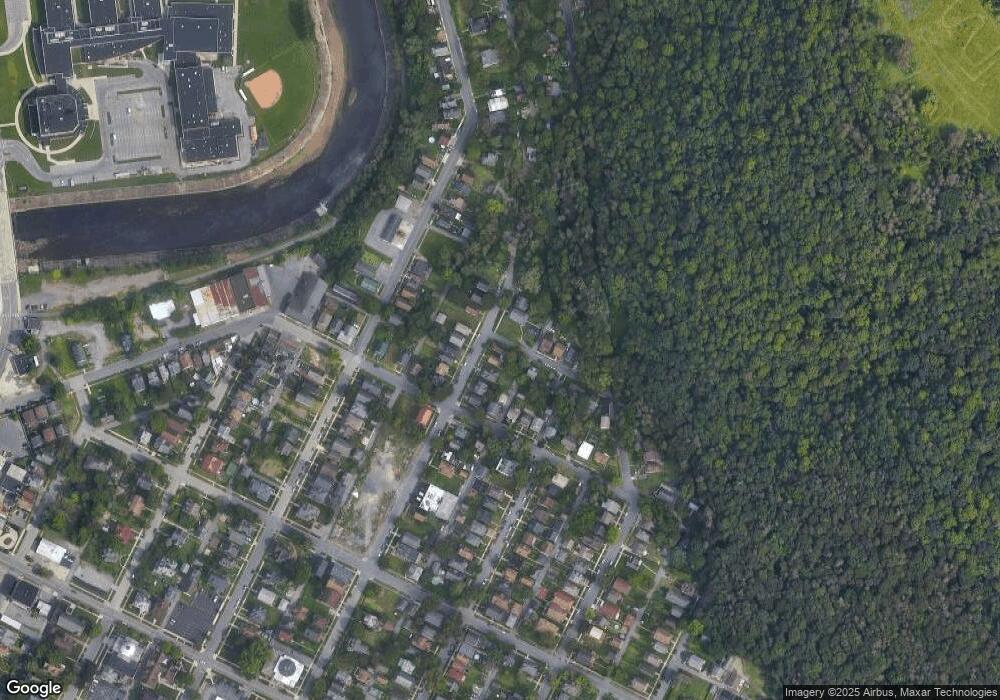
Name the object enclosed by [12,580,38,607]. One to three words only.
building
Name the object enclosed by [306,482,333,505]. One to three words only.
house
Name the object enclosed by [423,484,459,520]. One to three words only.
building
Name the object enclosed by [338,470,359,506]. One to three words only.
house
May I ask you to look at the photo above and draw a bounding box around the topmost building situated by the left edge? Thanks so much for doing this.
[28,0,241,163]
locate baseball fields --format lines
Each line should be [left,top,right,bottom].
[238,42,314,142]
